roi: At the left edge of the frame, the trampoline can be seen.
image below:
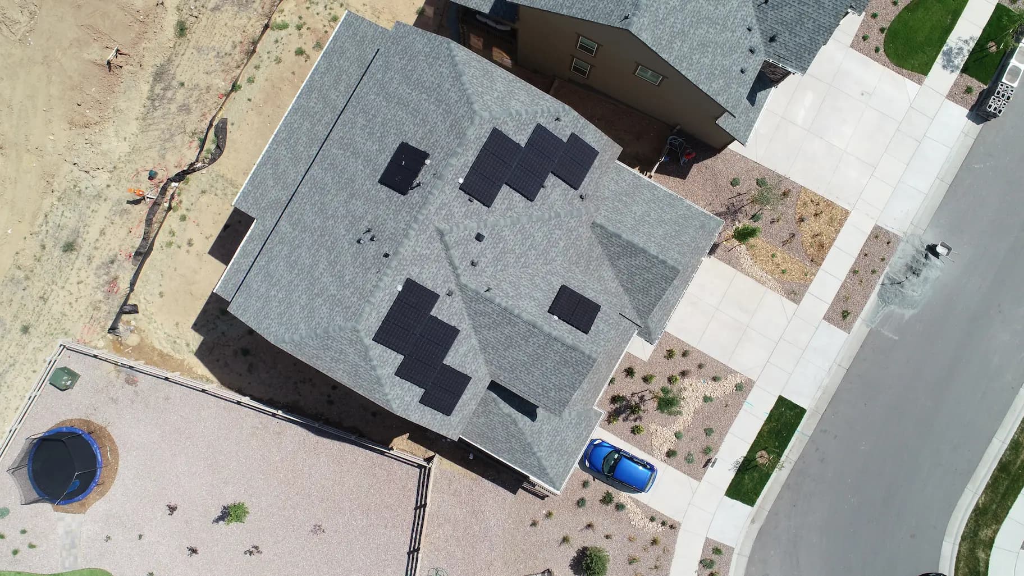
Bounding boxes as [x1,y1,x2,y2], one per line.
[6,424,113,509]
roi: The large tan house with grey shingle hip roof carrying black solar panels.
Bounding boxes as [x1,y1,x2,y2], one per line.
[212,9,726,496]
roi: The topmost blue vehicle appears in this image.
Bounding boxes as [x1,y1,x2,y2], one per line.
[584,439,663,500]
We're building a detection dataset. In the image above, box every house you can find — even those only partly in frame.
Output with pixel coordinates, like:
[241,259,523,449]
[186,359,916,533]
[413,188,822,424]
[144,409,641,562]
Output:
[453,0,868,153]
[212,9,726,496]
